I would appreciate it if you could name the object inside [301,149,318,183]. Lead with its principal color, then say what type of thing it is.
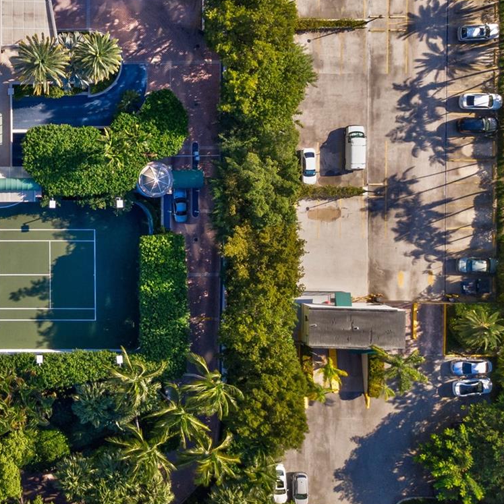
white car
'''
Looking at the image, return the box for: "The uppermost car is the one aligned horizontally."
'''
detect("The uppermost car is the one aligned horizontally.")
[458,22,497,41]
